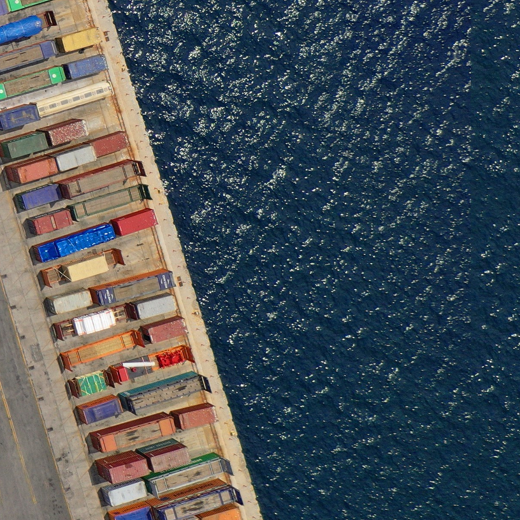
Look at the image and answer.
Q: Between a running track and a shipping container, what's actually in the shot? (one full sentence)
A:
There is a shipping container in the scene.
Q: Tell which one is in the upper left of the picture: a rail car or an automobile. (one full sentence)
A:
The one visible in the upper left of the picture is a rail car.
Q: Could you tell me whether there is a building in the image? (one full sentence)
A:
No, I can't see a single building in this photo.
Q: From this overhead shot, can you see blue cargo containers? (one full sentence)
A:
Yes, a blue cargo container appears in the view.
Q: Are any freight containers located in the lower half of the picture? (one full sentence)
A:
Yes, a freight container shows up in the lower half of the picture.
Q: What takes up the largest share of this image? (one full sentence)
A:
The scene is dominated by water.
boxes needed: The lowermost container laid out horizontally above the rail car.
[63,55,109,81]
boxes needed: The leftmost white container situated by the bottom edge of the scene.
[100,476,149,507]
